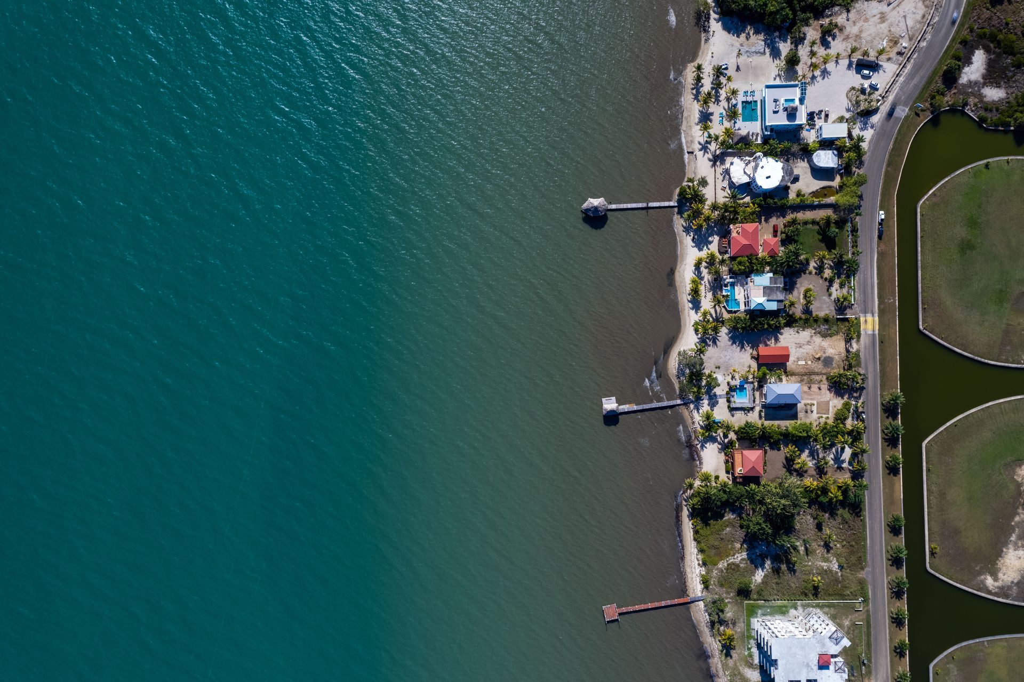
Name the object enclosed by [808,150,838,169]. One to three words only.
building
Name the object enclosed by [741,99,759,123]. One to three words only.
swimming pool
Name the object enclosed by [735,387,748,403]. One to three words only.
swimming pool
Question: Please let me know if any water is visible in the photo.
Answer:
Yes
